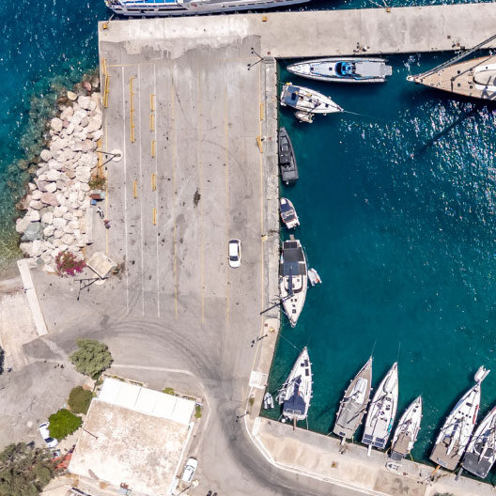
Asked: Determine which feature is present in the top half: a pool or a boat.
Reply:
boat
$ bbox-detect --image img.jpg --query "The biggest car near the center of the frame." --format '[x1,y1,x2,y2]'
[227,239,240,266]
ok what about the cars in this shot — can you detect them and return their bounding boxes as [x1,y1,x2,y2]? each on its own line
[227,239,240,266]
[35,420,59,448]
[180,455,199,484]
